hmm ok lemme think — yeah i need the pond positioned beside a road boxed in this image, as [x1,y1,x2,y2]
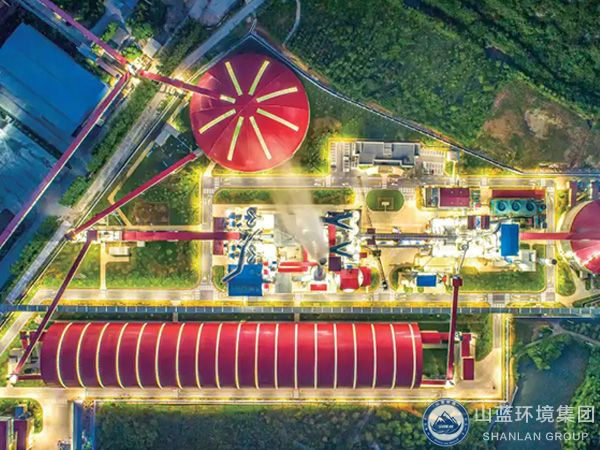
[492,335,591,450]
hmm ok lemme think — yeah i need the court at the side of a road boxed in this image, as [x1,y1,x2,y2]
[366,186,404,212]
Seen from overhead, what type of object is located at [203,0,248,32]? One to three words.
building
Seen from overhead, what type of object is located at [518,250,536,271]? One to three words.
house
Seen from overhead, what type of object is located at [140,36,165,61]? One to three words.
house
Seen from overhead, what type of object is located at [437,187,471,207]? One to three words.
building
